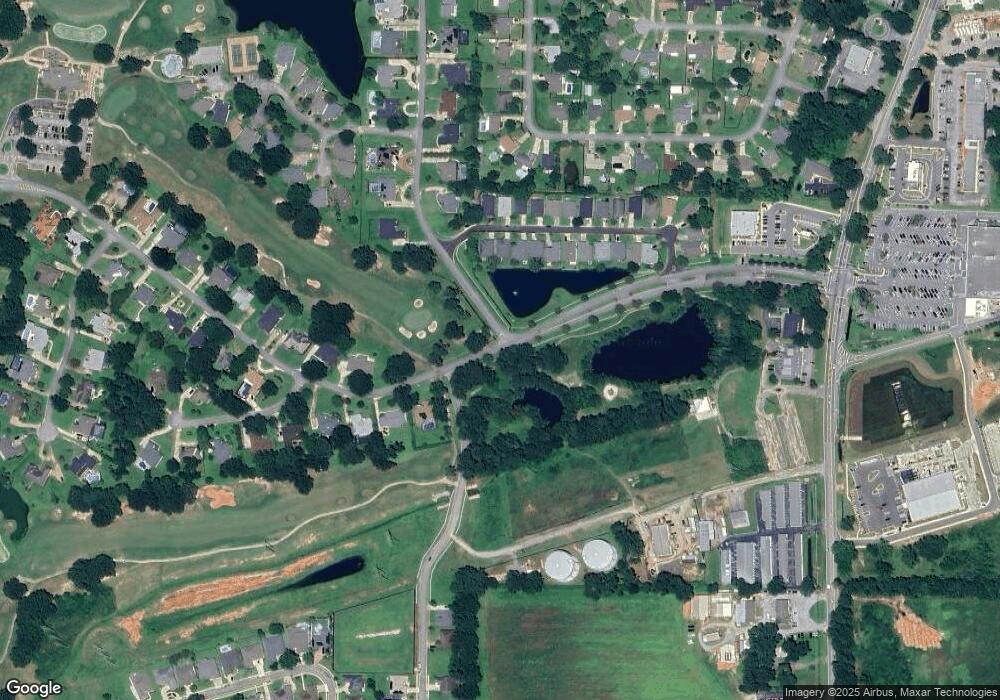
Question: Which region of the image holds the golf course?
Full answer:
The golf course is in the left part of the image.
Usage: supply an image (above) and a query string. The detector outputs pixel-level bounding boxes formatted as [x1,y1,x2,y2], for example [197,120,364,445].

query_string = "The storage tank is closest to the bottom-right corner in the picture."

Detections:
[583,538,616,572]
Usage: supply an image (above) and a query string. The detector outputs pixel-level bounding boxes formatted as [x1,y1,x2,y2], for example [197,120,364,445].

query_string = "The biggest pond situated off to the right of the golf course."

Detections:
[488,268,630,317]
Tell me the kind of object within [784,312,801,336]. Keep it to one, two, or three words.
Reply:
building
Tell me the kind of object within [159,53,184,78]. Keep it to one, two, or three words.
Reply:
swimming pool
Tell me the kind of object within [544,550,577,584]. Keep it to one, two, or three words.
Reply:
storage tank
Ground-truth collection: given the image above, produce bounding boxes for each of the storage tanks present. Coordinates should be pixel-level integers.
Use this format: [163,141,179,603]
[583,538,616,572]
[544,550,577,584]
